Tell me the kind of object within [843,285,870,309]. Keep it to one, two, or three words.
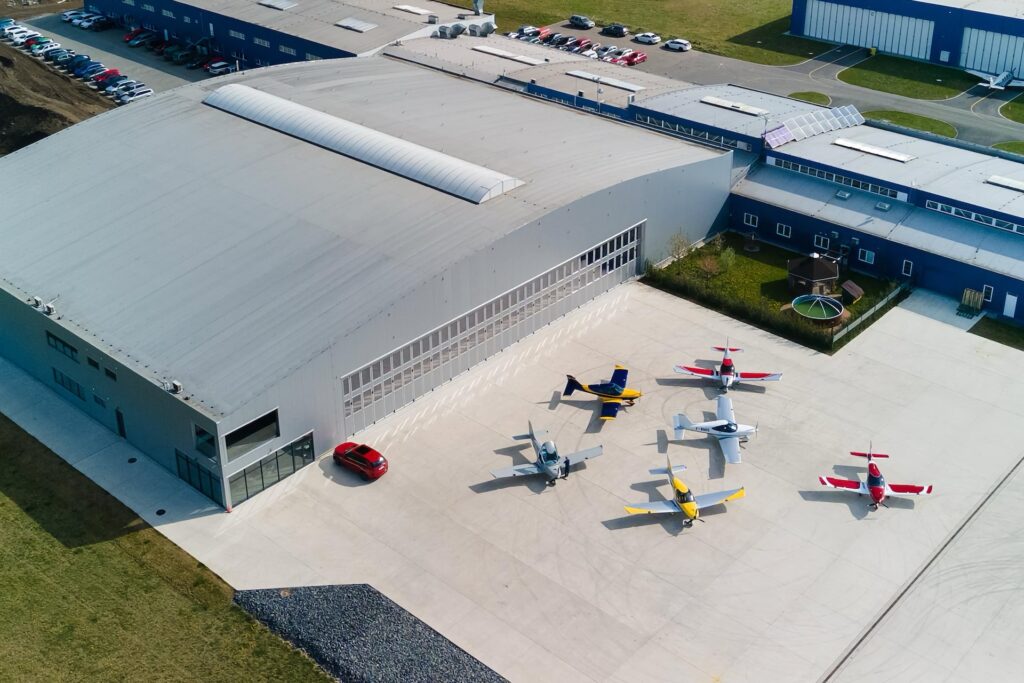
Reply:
shed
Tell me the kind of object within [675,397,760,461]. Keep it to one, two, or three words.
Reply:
airplane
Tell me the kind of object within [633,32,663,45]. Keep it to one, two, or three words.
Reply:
vehicle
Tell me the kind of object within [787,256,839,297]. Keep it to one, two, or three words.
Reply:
gazebo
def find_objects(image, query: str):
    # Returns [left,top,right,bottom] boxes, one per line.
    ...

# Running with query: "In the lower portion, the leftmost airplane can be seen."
[490,418,603,485]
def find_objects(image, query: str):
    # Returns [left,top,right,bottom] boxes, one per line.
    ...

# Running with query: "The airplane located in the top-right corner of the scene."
[969,68,1024,91]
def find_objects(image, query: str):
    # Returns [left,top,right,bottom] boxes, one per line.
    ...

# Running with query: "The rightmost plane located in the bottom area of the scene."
[818,436,930,508]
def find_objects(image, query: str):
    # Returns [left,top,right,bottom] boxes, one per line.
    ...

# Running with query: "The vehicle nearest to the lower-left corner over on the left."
[328,446,388,485]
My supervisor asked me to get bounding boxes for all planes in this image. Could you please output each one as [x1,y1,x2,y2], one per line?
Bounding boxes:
[564,365,644,419]
[675,333,781,395]
[490,418,603,485]
[818,436,930,508]
[675,397,760,461]
[624,451,743,525]
[969,68,1024,91]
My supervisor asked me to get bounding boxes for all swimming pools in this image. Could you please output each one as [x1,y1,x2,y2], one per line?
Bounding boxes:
[794,295,844,328]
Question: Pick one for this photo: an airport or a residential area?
airport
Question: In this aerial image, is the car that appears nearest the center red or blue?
red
